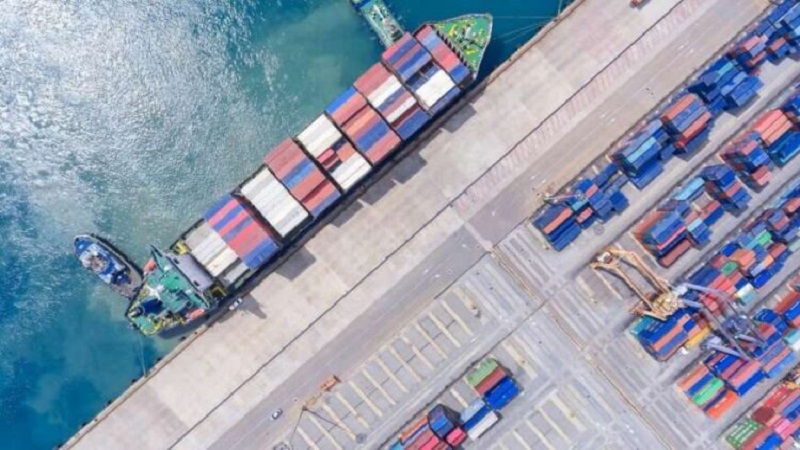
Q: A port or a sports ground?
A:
port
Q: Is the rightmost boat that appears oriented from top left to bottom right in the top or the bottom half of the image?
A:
top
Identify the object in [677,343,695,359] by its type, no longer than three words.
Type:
vehicle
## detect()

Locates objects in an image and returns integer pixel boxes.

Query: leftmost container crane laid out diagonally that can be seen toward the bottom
[589,246,684,327]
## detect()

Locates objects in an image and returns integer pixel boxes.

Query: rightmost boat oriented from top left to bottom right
[348,0,408,55]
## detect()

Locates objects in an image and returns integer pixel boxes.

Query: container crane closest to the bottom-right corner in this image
[673,281,772,363]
